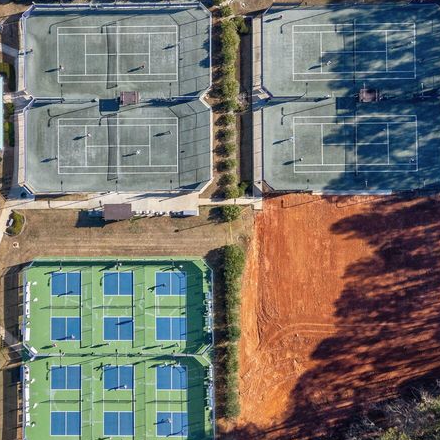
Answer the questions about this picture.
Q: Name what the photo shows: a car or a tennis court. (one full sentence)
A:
There is a tennis court in the scene.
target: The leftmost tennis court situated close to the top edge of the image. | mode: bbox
[25,8,209,100]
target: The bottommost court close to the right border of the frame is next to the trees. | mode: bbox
[264,100,440,192]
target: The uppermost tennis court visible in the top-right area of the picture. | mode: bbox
[264,7,440,100]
